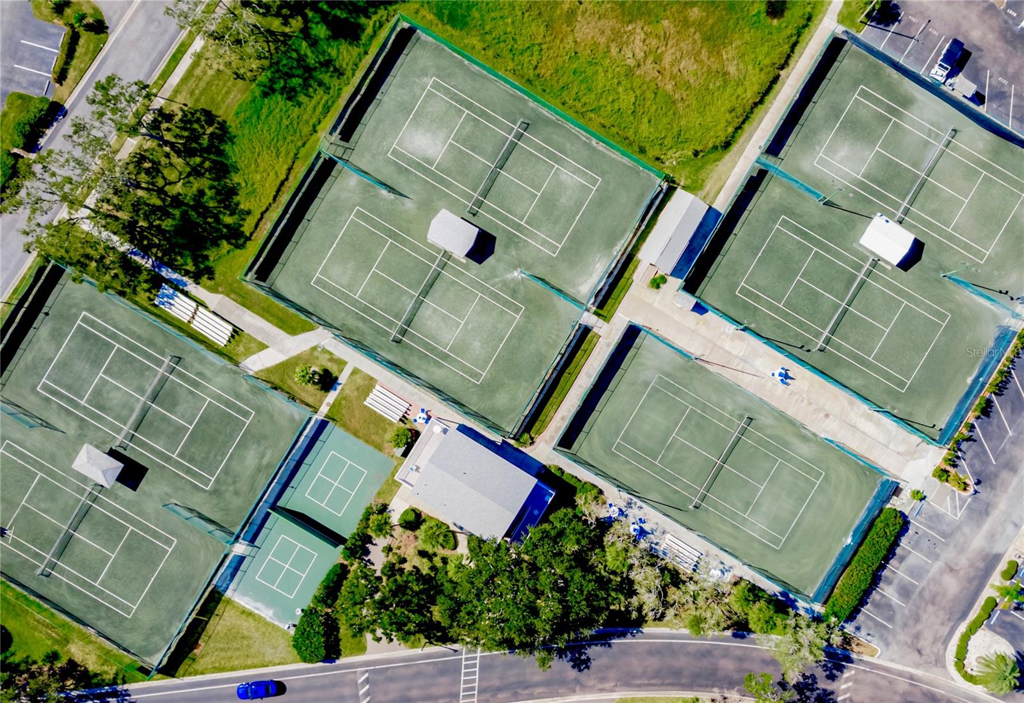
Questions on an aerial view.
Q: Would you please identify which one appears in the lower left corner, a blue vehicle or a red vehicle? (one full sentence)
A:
The one visible in the lower left corner is a blue vehicle.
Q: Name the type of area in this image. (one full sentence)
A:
The picture captures a sports ground.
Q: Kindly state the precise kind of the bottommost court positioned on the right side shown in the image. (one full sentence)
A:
I'd say the bottommost court positioned on the right side is a tennis court.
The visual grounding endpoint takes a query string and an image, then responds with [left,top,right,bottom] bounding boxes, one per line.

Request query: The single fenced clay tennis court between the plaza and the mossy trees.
[553,322,880,592]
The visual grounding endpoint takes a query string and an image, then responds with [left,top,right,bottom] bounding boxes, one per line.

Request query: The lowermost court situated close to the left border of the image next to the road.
[0,405,237,669]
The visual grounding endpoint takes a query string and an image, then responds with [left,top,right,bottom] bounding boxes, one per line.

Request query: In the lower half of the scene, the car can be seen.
[237,681,278,703]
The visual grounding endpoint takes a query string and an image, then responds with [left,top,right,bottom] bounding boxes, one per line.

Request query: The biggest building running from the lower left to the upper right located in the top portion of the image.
[638,188,709,275]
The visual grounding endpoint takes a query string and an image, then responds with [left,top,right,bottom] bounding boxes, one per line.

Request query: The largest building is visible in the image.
[394,417,557,544]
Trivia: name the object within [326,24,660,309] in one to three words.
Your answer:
tennis court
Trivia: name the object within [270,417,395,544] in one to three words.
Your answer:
sports court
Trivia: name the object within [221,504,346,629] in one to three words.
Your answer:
sports court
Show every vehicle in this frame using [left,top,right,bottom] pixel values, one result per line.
[237,681,278,703]
[930,39,964,81]
[949,77,979,97]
